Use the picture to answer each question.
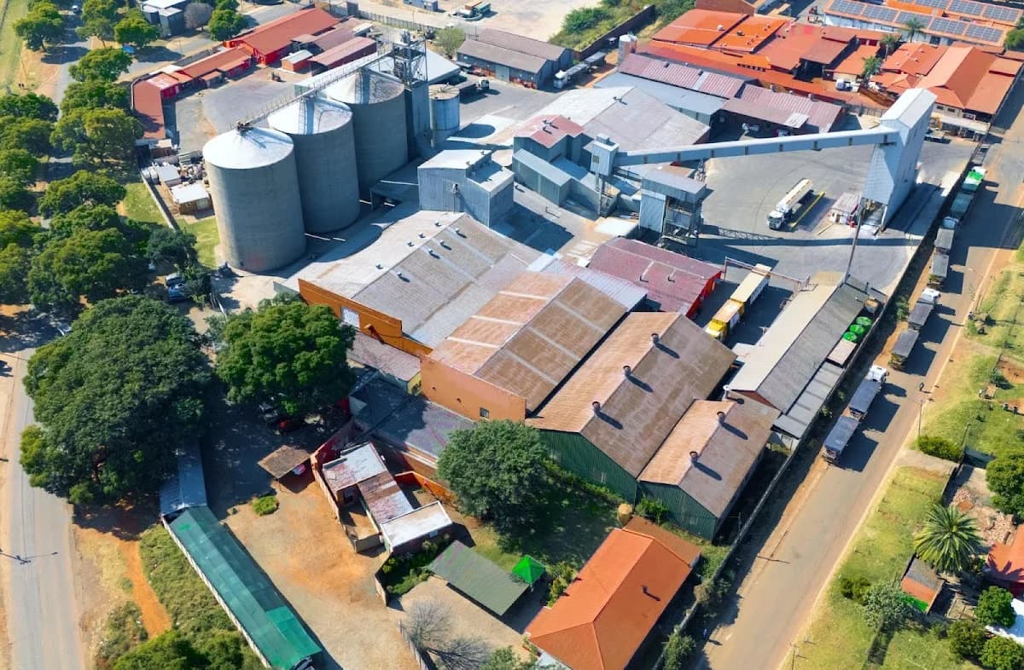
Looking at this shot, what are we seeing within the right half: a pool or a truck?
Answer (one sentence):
Visible within the right half is a truck.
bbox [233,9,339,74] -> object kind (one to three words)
building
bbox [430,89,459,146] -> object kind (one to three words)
storage tank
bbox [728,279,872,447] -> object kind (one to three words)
shed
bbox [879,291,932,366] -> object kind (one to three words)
truck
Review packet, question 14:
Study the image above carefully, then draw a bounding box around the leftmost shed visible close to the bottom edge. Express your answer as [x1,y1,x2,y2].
[168,510,329,670]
